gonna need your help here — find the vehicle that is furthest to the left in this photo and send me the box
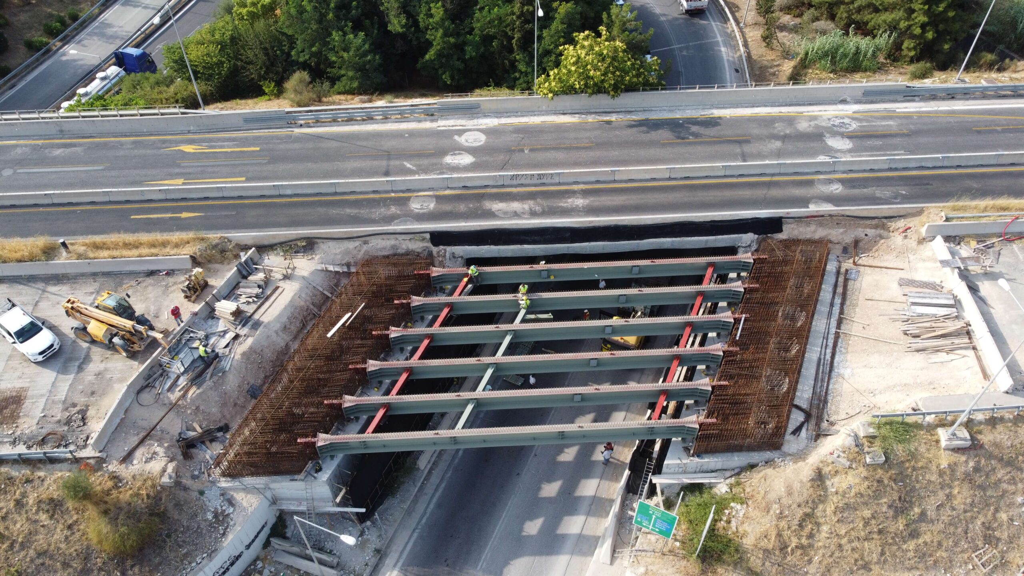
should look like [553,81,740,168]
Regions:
[0,299,58,365]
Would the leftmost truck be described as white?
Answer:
Yes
